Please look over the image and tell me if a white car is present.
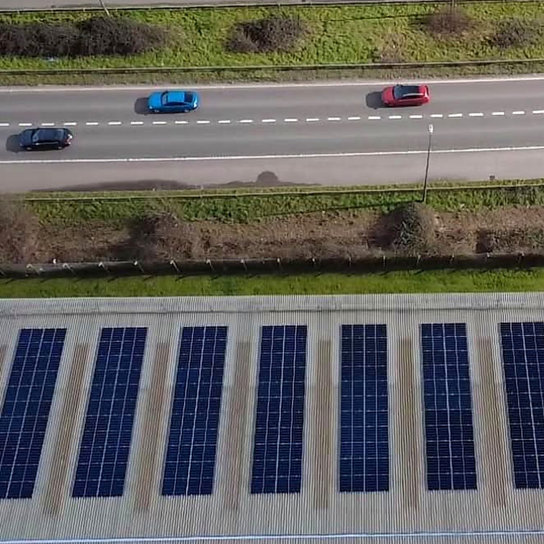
No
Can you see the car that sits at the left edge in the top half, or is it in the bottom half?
top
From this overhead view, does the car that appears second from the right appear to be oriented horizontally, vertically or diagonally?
horizontally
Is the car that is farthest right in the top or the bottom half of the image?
top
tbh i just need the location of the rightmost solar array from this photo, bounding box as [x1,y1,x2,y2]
[499,322,544,490]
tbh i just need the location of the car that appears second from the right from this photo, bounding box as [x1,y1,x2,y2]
[146,88,200,111]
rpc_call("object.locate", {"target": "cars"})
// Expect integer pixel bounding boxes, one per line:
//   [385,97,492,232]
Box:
[146,88,200,111]
[378,81,431,106]
[16,126,76,149]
